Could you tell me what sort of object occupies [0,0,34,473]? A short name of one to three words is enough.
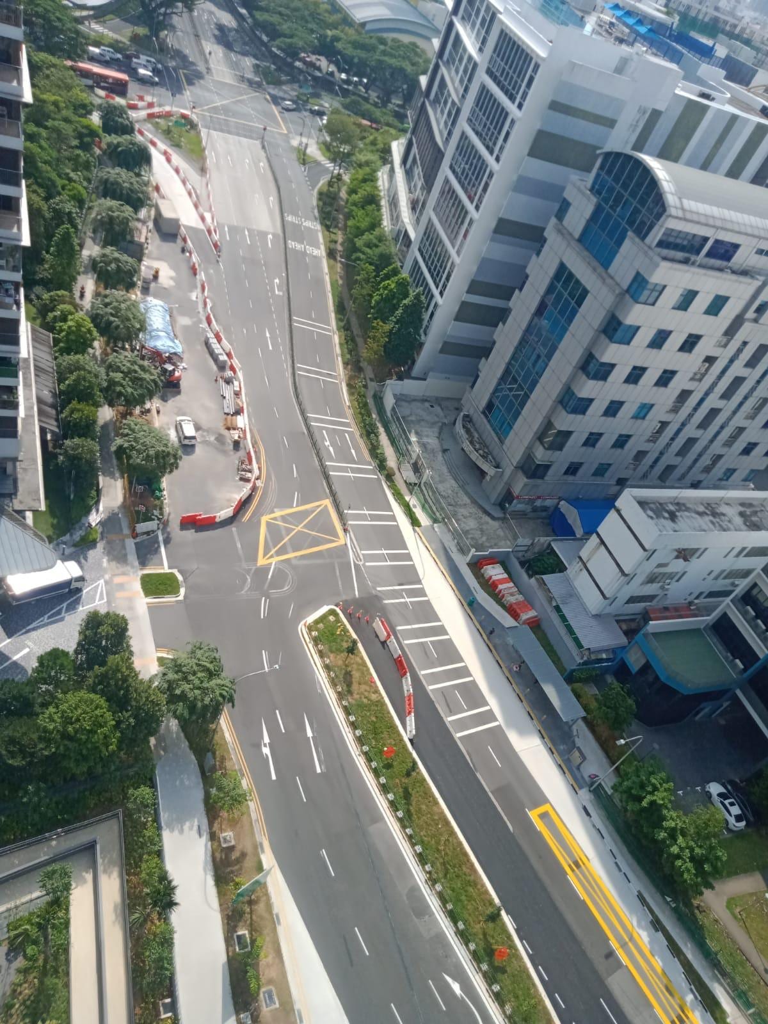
building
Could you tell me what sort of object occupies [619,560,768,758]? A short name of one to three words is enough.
building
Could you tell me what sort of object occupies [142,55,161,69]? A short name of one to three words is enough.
car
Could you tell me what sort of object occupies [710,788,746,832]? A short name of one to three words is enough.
car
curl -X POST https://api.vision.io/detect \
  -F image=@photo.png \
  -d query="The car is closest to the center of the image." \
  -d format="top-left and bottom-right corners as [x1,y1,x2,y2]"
[175,420,195,447]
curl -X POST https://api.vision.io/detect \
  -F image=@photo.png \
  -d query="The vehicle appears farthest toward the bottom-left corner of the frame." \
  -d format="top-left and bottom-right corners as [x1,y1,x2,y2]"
[6,568,86,613]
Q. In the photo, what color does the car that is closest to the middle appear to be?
white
